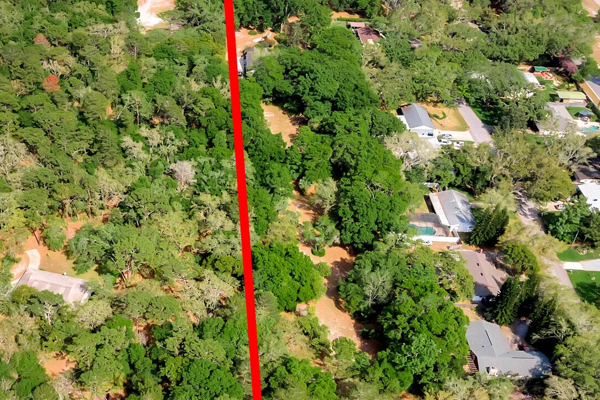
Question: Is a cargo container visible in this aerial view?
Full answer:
No, there's no cargo container here.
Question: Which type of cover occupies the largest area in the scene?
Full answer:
The bulk of the photo consists of trees.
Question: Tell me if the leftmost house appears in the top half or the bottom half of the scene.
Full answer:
The leftmost house is in the bottom half of the image.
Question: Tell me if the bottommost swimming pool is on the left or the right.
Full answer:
The bottommost swimming pool appears in the right half of the scene.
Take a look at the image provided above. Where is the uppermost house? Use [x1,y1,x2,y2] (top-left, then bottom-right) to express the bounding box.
[349,22,380,50]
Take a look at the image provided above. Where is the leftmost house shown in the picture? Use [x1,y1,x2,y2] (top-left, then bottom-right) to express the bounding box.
[16,268,87,311]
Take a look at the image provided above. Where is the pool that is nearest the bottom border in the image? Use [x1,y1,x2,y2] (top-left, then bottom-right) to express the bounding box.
[407,213,454,237]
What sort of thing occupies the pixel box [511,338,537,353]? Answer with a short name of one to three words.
car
